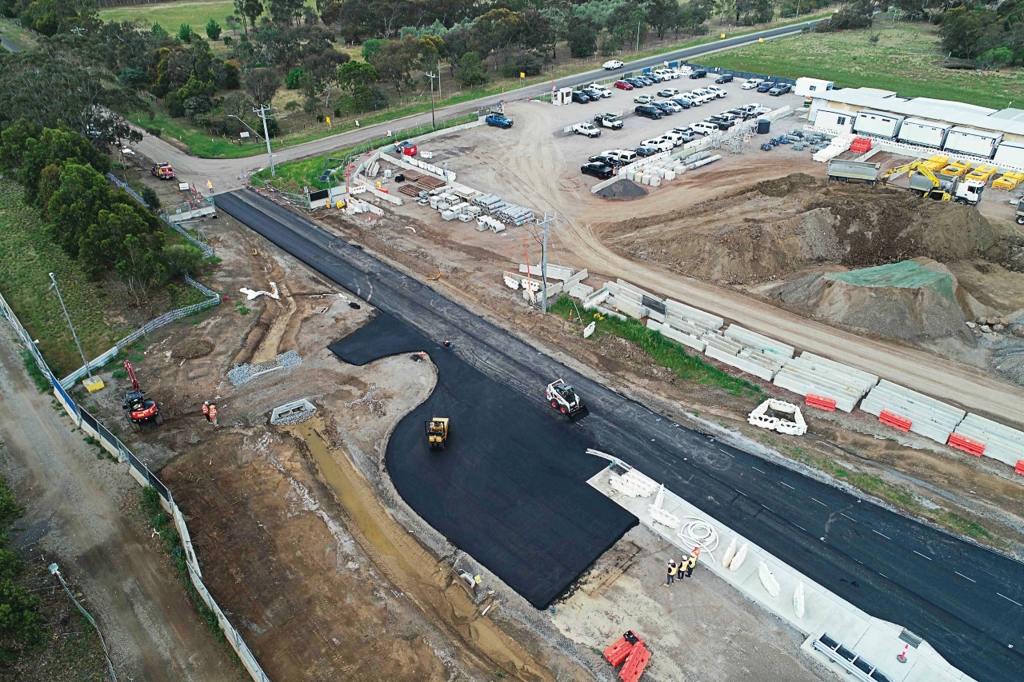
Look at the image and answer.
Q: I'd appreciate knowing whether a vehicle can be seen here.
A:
Yes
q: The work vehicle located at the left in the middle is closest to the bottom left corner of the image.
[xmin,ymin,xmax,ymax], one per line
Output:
[112,358,164,433]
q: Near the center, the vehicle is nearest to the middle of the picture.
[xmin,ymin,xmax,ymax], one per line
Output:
[546,380,592,421]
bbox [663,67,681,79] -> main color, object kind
white vehicle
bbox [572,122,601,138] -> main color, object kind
white vehicle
